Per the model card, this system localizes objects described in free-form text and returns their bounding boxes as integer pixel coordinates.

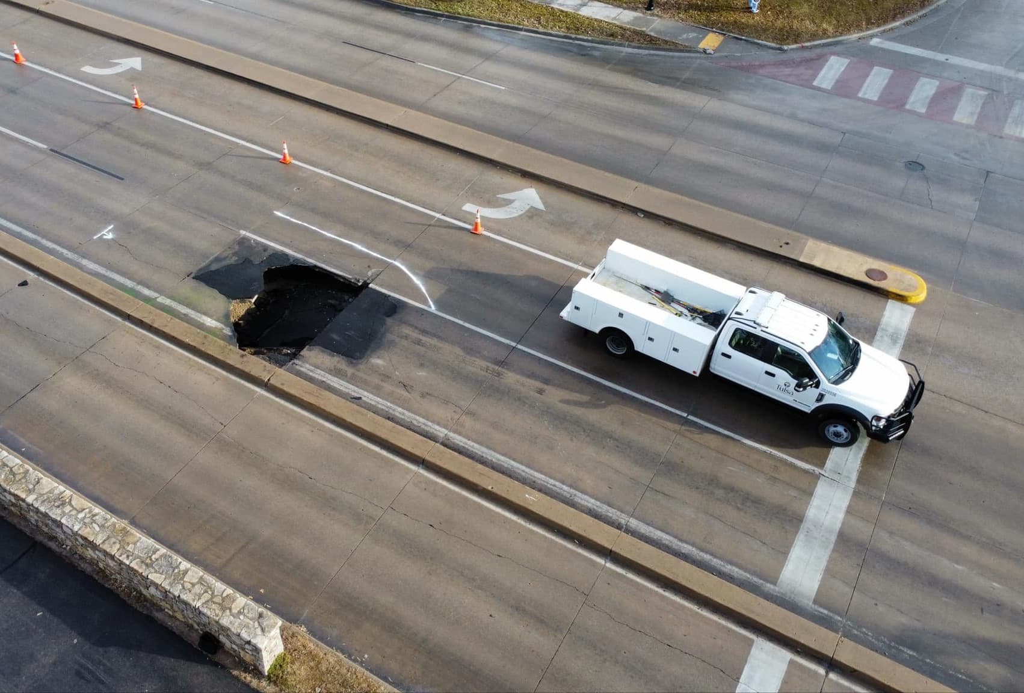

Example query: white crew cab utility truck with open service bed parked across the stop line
[558,238,926,444]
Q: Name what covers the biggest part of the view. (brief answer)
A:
paved ground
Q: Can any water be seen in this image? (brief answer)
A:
No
